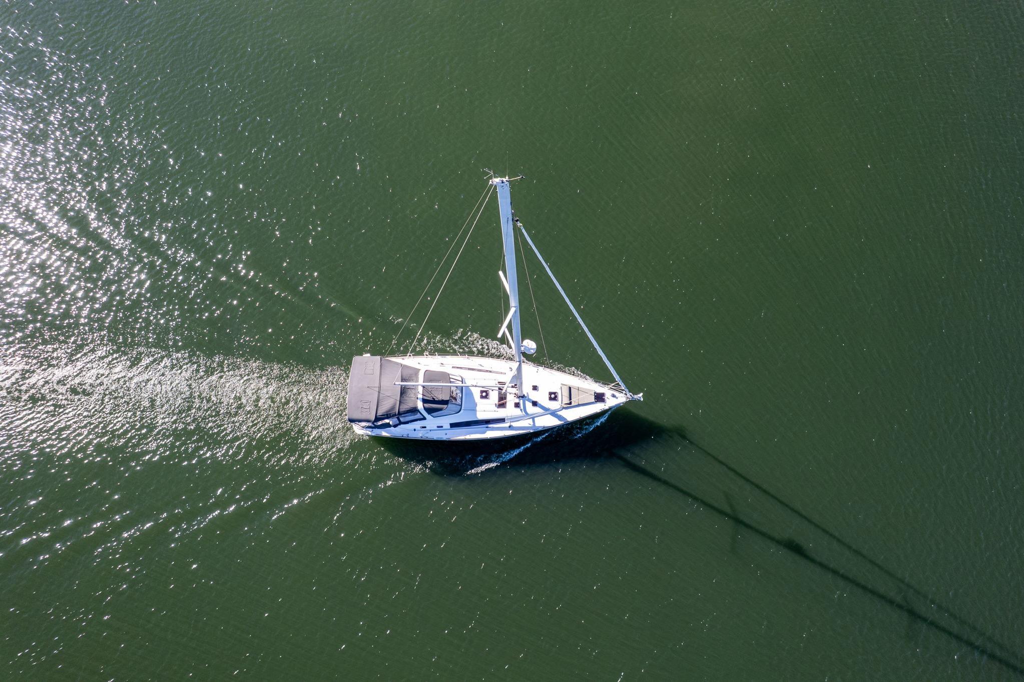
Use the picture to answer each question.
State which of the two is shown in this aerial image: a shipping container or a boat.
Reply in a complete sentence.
Visible in the photo is a boat.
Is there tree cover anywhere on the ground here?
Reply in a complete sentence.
No, the picture contains no tree cover.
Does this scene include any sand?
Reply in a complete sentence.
No, the picture contains no sand.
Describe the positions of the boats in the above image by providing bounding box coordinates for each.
[347,168,646,442]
